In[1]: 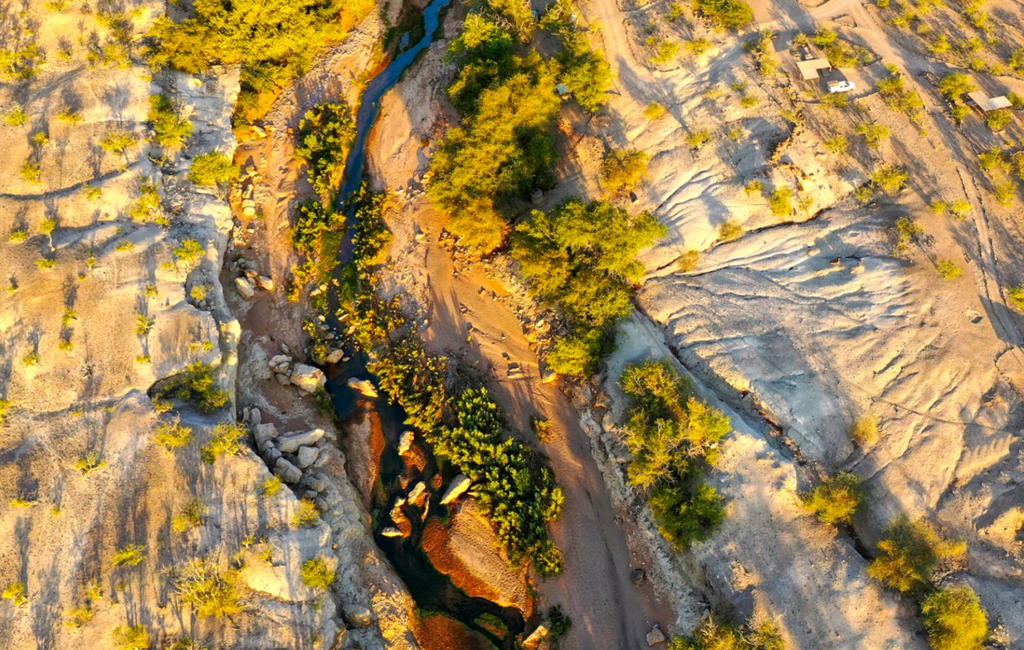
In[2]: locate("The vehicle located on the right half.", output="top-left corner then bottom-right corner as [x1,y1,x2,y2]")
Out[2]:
[826,77,860,93]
